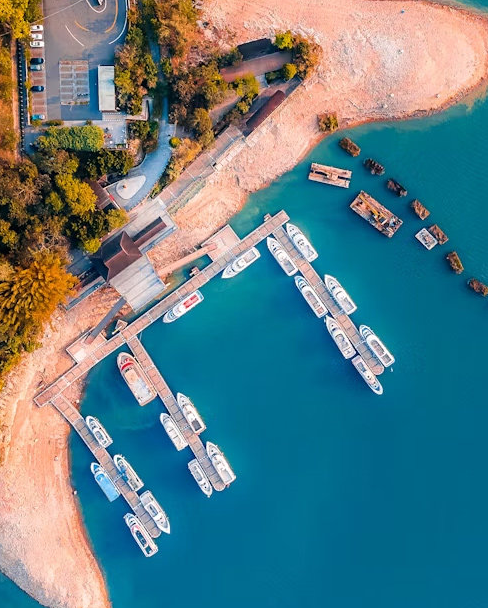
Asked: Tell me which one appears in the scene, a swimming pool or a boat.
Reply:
boat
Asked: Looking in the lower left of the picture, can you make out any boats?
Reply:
Yes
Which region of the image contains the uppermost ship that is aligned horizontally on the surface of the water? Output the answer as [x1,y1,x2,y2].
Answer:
[308,163,351,188]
